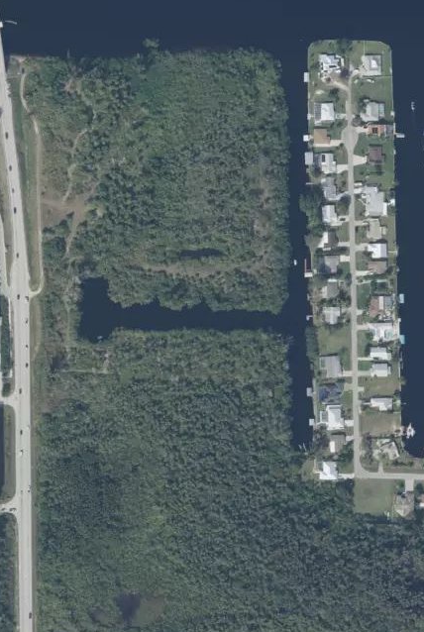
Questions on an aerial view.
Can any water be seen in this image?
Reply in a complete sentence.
Yes, water can be seen from above here.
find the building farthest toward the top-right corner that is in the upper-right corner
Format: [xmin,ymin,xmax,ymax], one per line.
[361,55,382,74]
